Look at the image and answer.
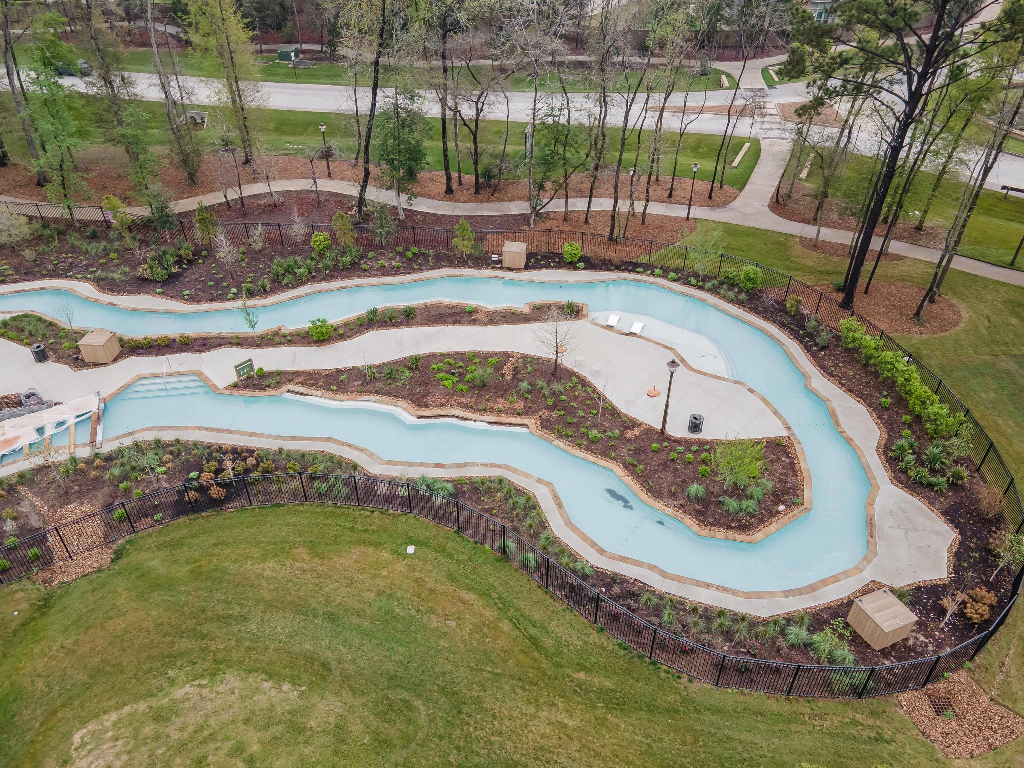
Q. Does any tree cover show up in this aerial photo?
Yes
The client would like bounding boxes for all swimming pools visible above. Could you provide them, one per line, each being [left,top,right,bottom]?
[0,274,881,599]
